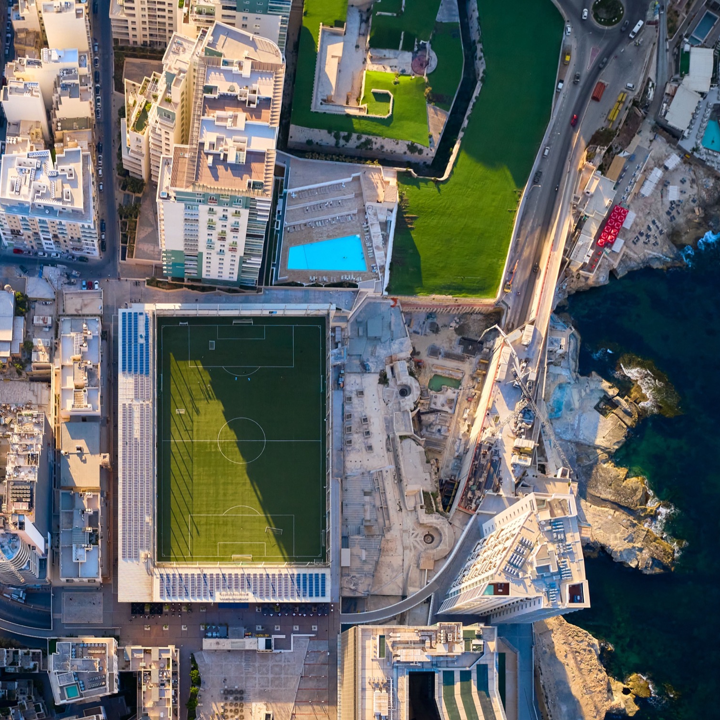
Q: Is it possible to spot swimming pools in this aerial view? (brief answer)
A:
Yes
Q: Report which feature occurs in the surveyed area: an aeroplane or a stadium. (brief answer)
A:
stadium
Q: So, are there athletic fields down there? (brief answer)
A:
Yes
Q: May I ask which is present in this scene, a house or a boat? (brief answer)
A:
house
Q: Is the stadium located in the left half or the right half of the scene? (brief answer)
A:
left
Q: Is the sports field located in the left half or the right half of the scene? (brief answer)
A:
left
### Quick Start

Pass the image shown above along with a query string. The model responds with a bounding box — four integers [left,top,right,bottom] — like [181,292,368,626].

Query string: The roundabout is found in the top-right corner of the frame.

[593,0,624,26]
